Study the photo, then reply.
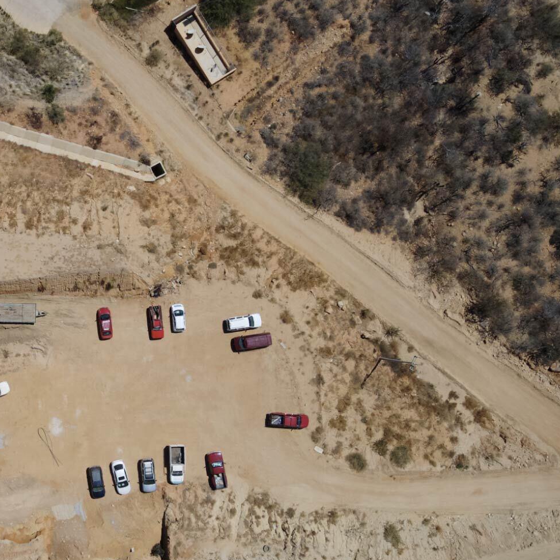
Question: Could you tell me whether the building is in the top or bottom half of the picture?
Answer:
top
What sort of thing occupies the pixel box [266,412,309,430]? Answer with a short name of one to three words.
vehicle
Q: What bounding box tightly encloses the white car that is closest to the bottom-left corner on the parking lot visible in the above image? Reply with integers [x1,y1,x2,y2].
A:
[110,460,131,495]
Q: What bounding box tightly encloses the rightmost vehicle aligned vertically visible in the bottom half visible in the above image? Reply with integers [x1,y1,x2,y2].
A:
[206,452,228,491]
